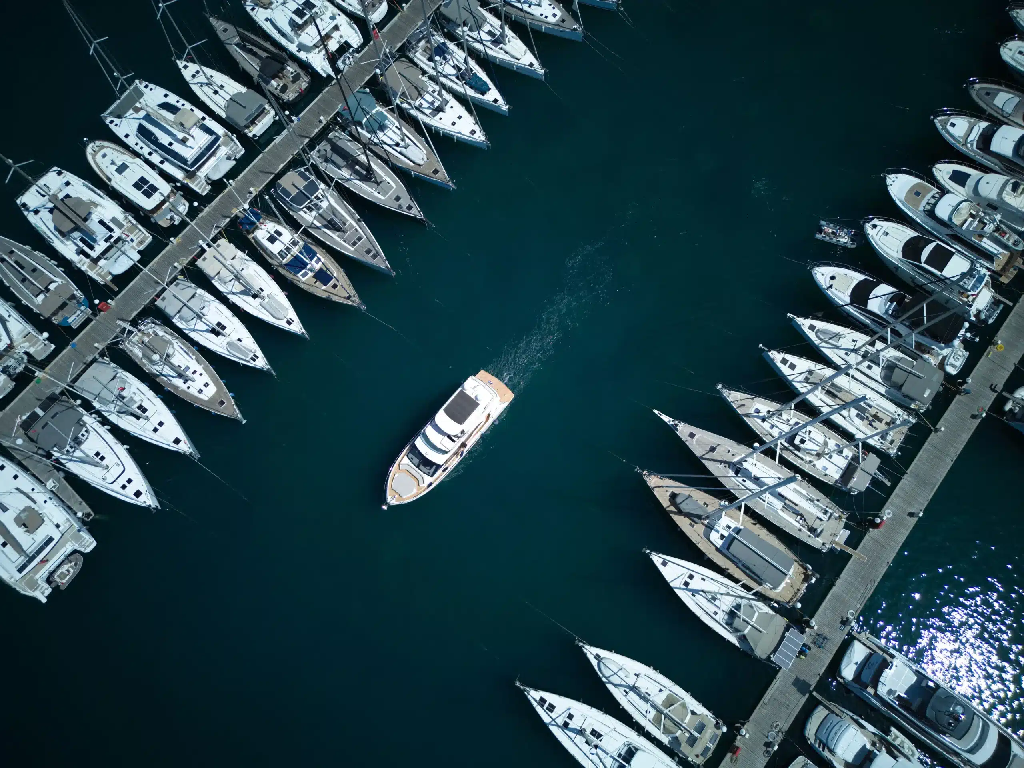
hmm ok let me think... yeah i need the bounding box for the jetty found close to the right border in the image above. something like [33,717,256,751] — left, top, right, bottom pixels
[717,293,1024,768]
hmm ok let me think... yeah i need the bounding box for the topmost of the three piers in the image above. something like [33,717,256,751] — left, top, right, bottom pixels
[0,0,446,444]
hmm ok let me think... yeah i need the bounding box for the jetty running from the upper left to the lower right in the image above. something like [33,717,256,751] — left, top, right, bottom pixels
[0,402,96,520]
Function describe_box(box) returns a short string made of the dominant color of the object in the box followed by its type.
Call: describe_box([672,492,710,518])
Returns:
gray boat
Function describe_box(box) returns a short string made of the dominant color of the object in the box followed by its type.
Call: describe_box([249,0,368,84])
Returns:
white boat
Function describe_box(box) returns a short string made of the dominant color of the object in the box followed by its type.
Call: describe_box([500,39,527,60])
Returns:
white boat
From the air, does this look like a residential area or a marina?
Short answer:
marina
